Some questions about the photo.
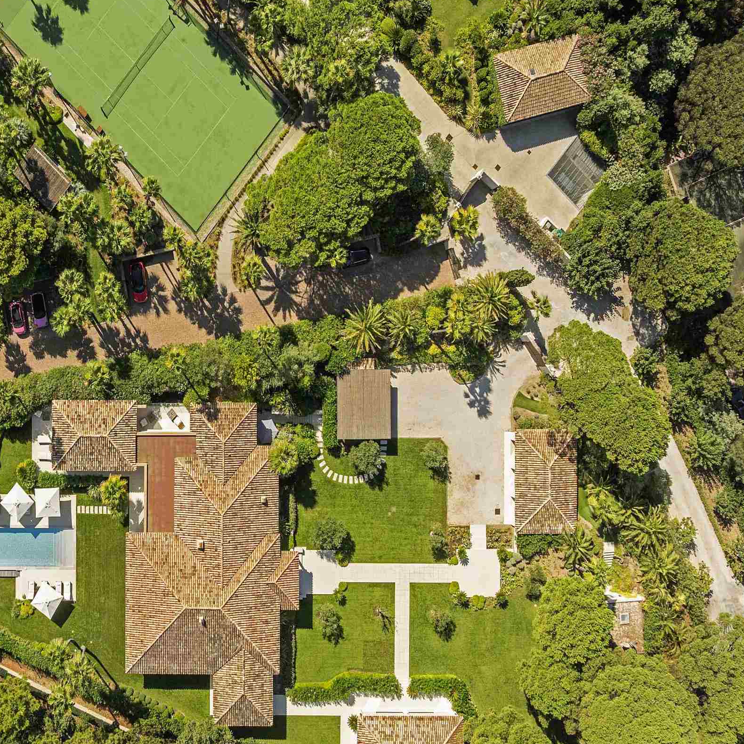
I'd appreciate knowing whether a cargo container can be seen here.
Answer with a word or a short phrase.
No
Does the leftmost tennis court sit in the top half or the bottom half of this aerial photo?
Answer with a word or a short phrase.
top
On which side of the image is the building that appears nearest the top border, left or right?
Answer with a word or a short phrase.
right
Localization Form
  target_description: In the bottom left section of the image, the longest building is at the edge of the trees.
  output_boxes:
[51,399,300,728]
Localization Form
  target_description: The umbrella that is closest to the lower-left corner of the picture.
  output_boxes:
[31,583,64,619]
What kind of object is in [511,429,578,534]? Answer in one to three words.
building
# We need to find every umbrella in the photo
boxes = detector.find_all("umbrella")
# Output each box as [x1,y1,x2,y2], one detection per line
[261,419,279,443]
[35,487,61,517]
[31,583,64,619]
[1,483,34,523]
